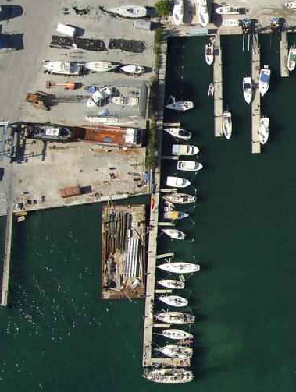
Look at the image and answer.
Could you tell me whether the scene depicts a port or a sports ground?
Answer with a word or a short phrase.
port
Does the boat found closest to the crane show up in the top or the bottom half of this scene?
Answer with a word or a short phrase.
top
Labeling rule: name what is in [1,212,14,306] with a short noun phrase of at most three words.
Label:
pier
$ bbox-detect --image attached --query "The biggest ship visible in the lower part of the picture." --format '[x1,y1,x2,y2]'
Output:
[101,198,147,301]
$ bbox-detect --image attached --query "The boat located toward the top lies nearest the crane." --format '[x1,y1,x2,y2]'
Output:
[88,86,114,107]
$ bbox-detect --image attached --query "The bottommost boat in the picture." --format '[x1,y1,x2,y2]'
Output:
[142,369,194,383]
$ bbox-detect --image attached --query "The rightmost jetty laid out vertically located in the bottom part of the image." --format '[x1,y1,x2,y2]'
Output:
[142,121,190,367]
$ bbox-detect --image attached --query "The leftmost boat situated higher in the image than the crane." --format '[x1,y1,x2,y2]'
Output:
[42,60,84,77]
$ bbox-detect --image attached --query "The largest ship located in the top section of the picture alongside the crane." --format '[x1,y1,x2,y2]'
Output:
[72,124,146,149]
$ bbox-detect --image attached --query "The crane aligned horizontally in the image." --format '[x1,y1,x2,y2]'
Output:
[20,91,89,113]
